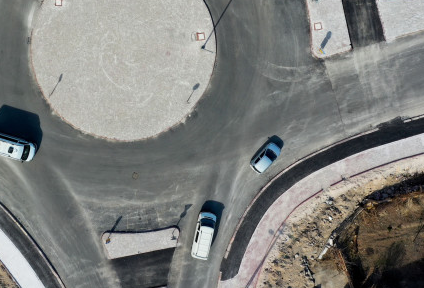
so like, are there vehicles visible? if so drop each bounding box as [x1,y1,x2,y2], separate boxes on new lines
[191,212,216,258]
[0,131,37,162]
[249,140,281,174]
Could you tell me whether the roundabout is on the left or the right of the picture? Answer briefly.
left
